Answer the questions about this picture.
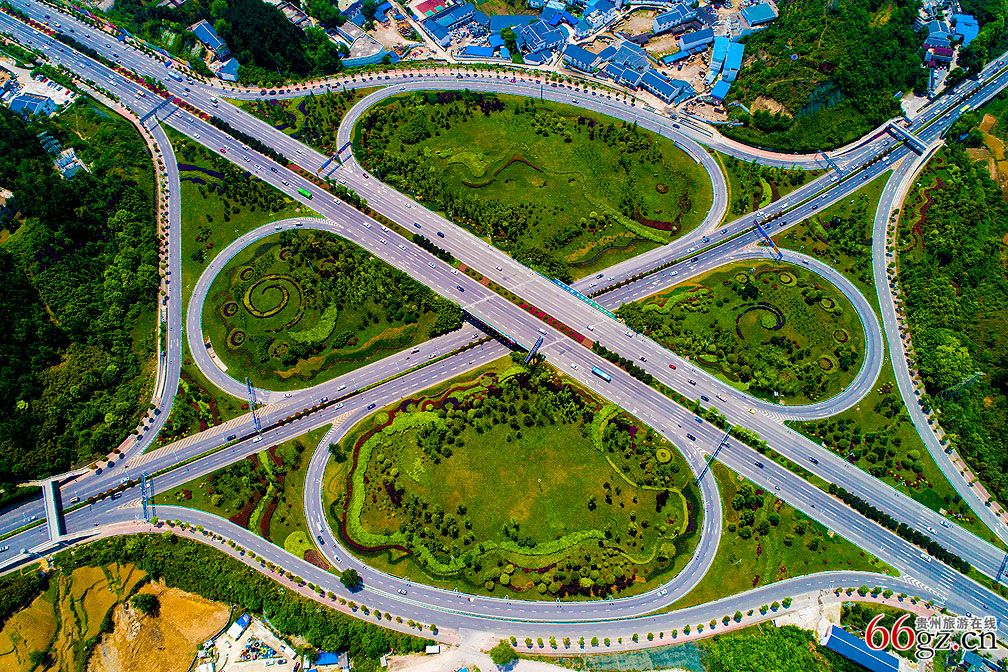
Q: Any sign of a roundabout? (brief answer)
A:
No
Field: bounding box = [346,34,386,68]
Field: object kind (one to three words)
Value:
building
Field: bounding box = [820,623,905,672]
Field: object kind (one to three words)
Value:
building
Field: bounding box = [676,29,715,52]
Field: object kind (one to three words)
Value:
house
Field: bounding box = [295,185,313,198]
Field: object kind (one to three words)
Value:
vehicle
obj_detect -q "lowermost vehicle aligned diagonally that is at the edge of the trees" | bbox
[282,642,297,658]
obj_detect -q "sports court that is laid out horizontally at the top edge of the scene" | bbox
[407,0,462,21]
